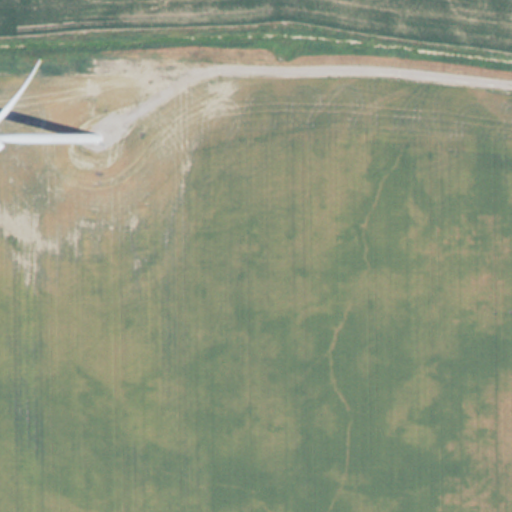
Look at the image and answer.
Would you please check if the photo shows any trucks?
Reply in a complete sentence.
No, this view has no truck in it.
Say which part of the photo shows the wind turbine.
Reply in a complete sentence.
The wind turbine sits in the top left section of the image.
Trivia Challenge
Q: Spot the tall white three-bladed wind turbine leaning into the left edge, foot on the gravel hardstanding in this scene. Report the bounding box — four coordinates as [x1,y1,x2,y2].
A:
[0,61,106,152]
